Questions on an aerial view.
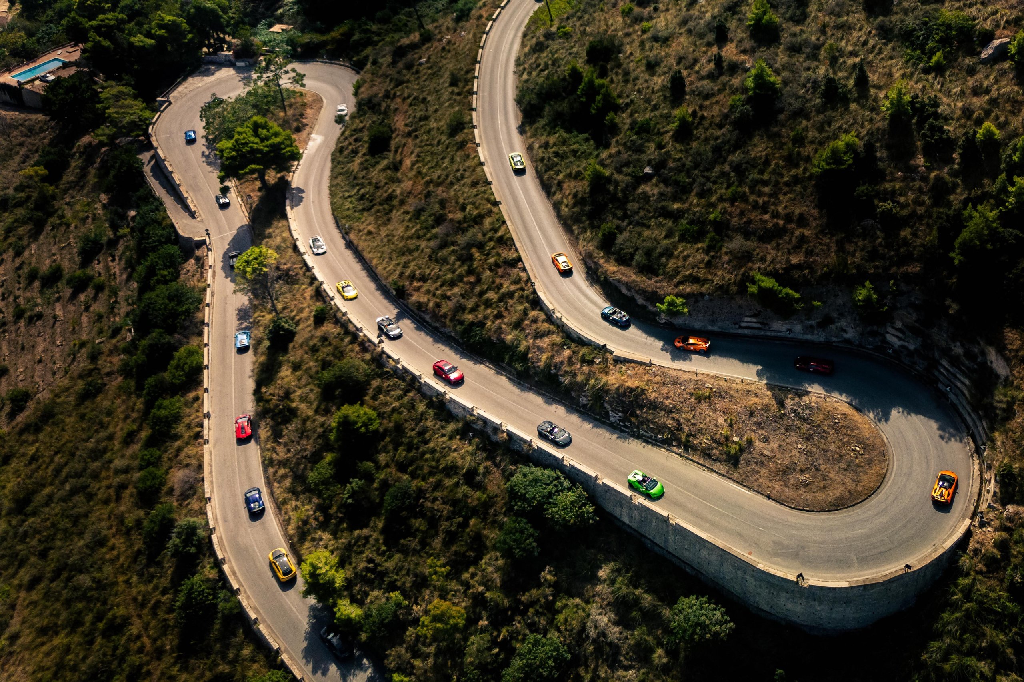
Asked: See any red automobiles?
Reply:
Yes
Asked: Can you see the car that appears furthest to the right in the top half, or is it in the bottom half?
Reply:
bottom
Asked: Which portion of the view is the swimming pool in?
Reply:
top left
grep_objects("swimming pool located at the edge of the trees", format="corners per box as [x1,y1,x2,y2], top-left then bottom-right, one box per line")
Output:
[6,56,72,82]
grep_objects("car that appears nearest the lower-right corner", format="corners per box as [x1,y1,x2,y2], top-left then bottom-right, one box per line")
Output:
[930,472,958,506]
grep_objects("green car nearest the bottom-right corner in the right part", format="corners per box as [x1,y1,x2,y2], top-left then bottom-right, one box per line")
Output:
[625,469,667,499]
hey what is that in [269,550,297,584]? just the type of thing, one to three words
car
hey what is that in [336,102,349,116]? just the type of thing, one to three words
vehicle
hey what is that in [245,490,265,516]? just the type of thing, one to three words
car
